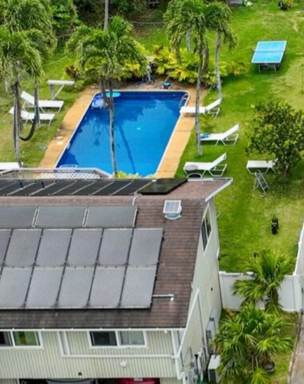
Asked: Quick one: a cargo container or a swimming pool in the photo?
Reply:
swimming pool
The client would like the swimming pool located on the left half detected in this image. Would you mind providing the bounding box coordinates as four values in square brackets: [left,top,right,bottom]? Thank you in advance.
[52,94,186,178]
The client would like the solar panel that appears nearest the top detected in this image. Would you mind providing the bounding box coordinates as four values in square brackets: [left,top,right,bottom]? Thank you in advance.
[164,192,180,208]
